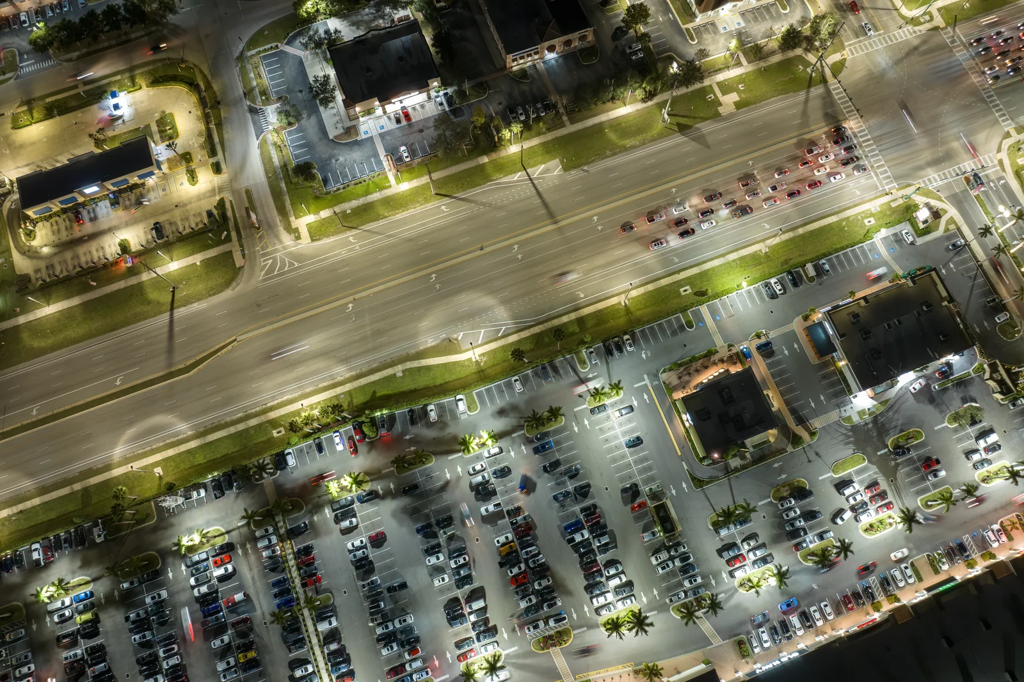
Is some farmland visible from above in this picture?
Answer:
No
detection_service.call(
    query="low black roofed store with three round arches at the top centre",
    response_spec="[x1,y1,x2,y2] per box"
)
[467,0,593,70]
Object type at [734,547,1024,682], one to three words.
building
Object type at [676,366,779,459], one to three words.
building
